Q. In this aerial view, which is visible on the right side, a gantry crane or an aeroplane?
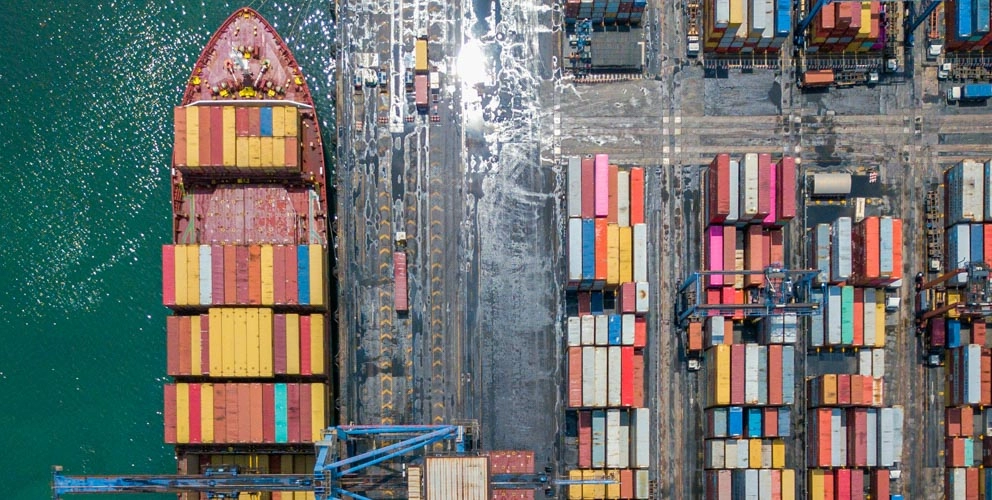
gantry crane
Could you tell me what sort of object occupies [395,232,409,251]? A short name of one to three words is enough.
vehicle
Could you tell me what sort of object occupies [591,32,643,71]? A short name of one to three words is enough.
shed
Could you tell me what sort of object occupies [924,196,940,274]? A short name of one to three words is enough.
vehicle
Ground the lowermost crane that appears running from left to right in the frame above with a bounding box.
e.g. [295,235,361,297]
[50,421,606,500]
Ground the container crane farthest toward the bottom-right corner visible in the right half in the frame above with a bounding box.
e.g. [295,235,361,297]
[919,266,992,326]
